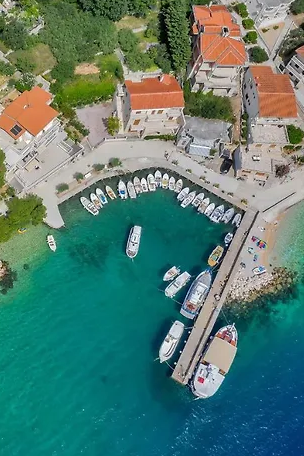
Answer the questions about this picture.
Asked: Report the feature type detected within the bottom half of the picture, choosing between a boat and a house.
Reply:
boat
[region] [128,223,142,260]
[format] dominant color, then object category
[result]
white boat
